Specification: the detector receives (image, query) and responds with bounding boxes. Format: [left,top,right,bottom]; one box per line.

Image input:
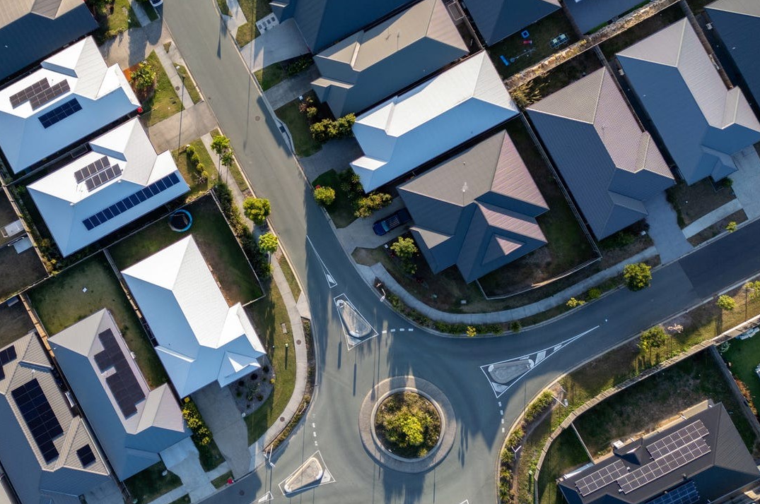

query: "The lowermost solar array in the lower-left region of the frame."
[76,445,96,467]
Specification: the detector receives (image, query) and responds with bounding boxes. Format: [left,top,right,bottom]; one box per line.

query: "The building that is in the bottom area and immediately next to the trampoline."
[120,234,266,400]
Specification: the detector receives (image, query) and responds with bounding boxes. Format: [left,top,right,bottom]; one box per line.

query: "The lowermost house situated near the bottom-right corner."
[554,397,760,504]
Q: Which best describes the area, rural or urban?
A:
urban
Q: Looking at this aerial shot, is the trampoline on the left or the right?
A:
left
